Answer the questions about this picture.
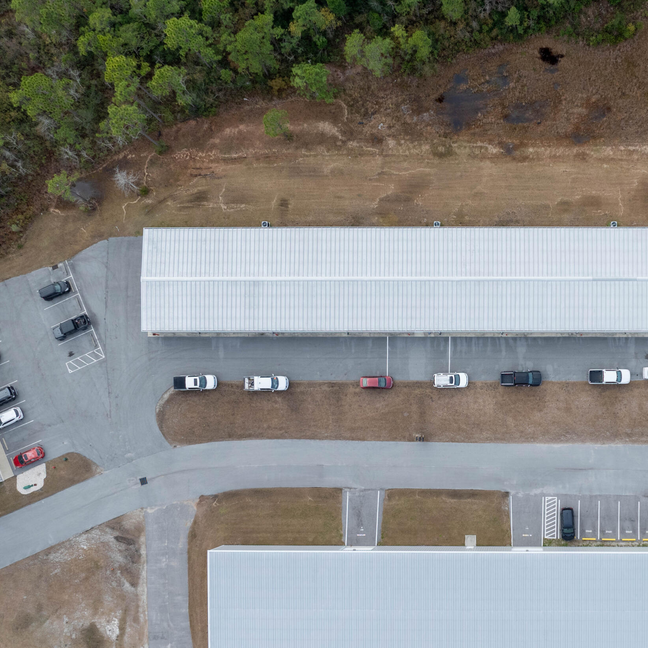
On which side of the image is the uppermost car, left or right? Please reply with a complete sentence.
The uppermost car sits on the left side.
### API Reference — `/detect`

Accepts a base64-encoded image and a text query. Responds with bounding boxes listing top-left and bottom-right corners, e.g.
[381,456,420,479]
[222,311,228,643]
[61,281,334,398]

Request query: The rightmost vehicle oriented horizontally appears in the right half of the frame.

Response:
[588,367,629,385]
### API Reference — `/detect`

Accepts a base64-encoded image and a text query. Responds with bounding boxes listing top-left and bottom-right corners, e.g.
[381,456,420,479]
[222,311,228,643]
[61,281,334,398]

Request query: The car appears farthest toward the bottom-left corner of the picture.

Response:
[14,446,49,469]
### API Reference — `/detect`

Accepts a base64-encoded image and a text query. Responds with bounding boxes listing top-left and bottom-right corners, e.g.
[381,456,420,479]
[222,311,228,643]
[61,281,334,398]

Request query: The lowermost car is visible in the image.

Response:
[560,507,576,542]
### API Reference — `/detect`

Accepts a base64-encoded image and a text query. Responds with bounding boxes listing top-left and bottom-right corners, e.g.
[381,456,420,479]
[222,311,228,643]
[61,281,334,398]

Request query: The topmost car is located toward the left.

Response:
[35,279,75,304]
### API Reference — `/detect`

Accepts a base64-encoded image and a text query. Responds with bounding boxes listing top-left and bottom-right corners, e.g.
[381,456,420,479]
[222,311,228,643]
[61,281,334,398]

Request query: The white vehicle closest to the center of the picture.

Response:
[244,374,289,392]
